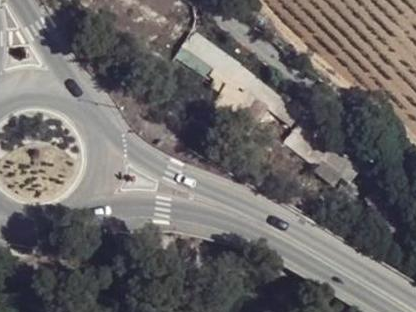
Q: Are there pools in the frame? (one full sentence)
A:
No, there's no pool here.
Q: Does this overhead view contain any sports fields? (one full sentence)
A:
No, no sports field is visible in the scene.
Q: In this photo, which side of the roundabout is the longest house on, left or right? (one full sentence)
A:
The roundabout has the longest house on its right side.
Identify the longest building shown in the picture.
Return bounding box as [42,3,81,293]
[175,32,294,126]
